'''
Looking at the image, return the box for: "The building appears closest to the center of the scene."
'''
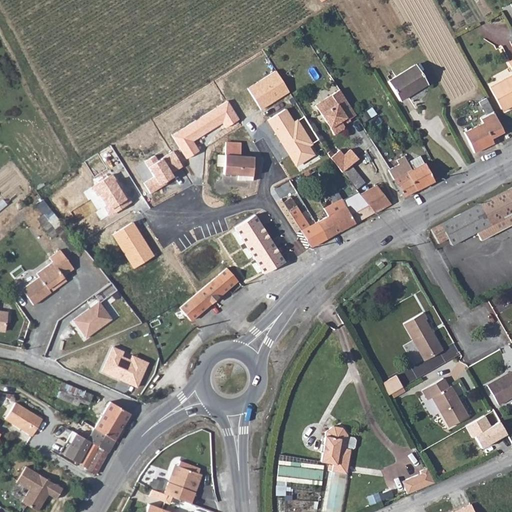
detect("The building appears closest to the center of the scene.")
[233,215,286,275]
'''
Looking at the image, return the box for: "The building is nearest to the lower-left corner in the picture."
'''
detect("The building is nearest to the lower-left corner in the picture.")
[17,468,62,511]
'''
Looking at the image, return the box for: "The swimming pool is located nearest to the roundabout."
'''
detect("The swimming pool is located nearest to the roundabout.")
[322,472,348,512]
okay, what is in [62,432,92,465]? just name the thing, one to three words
barn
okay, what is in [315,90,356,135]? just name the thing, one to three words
house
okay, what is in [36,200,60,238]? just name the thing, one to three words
shed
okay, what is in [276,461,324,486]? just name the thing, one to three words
building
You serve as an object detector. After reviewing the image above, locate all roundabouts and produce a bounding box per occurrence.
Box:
[196,343,265,412]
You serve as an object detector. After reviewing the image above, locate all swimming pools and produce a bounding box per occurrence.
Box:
[308,66,320,80]
[10,266,24,280]
[322,472,348,512]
